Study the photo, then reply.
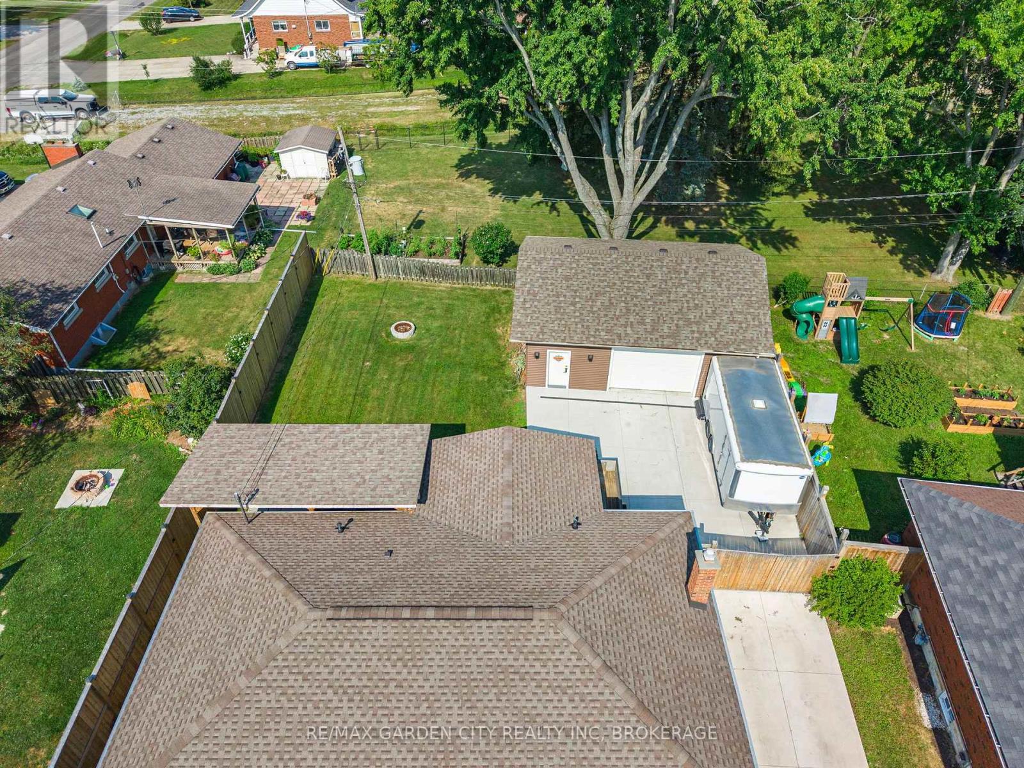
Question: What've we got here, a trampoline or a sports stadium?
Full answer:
The one in the frame is a trampoline.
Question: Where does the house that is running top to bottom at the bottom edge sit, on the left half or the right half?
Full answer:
It is on the right.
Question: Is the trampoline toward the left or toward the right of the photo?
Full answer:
It is on the right.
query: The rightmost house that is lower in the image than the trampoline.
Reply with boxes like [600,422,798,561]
[894,476,1024,768]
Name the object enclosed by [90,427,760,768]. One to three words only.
house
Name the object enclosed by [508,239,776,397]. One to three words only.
building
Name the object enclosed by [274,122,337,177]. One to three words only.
shed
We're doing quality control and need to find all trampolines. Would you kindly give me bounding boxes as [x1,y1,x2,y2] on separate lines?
[915,292,971,341]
